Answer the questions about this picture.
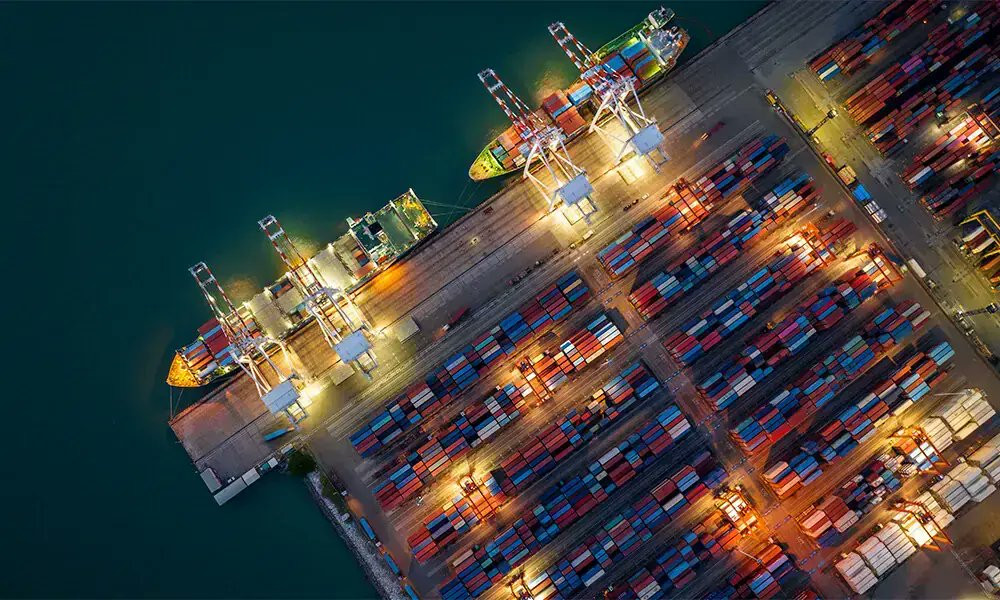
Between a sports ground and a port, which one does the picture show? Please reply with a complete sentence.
What you see here is a port.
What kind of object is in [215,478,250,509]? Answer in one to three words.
shed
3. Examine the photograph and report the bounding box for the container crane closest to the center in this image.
[511,354,558,405]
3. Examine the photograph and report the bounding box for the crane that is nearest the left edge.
[190,260,318,426]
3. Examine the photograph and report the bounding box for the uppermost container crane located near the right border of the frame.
[939,99,1000,159]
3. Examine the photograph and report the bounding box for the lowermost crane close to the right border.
[887,495,959,556]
